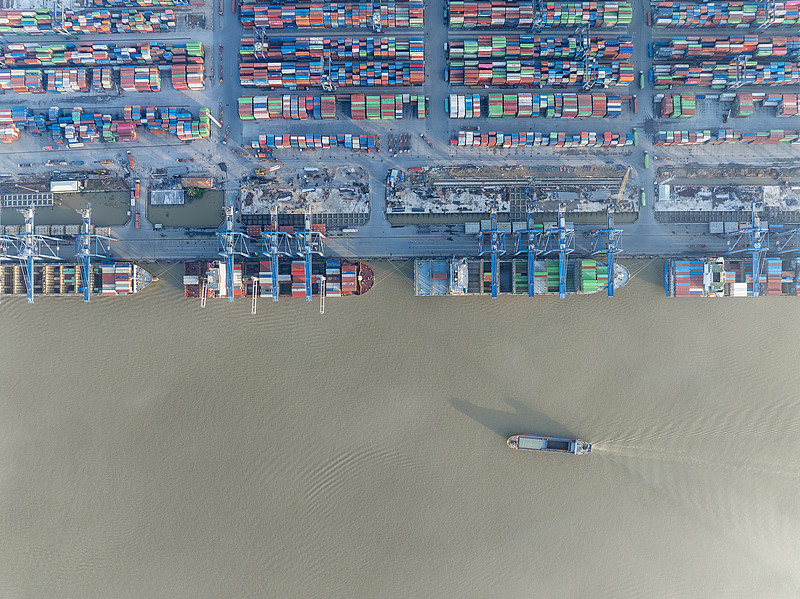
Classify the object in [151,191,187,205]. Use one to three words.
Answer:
shed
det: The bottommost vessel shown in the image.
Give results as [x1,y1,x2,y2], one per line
[507,435,593,457]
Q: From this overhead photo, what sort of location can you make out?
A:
port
